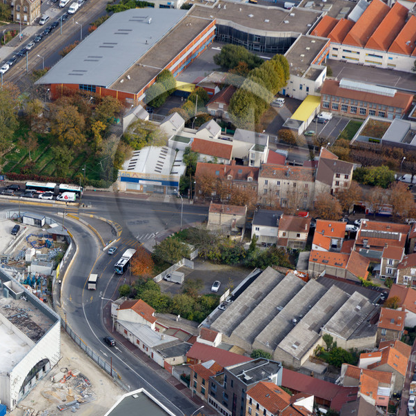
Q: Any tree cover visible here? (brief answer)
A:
Yes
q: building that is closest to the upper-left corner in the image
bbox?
[12,0,41,24]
